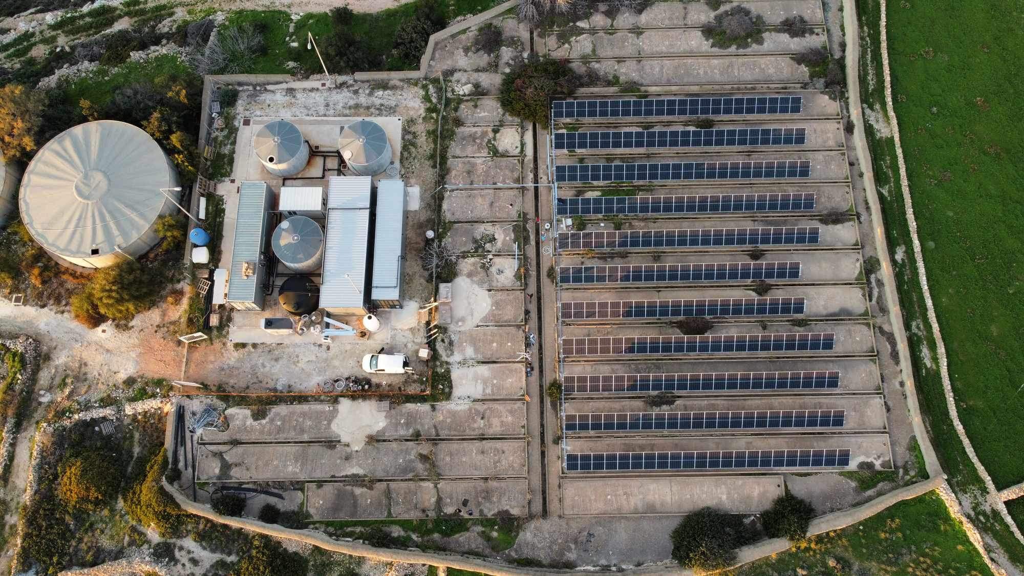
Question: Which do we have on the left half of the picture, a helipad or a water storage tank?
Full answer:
You can see a water storage tank on the left half of the picture.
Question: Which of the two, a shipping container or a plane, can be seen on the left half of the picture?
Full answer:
There is a shipping container on the left half of the picture.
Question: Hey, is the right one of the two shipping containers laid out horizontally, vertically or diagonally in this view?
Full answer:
I'd say the right one of the two shipping containers is aligned vertically in the picture.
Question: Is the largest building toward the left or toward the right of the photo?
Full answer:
The largest building appears in the left half of the scene.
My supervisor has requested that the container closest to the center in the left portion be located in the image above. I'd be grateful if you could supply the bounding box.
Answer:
[371,180,407,306]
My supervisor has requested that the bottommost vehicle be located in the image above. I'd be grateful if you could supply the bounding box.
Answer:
[362,346,415,376]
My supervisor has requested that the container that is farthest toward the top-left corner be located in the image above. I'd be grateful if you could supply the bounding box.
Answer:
[227,181,274,308]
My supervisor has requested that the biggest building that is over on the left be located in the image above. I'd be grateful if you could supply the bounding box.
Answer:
[319,176,377,315]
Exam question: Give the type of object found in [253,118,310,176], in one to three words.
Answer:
water tank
